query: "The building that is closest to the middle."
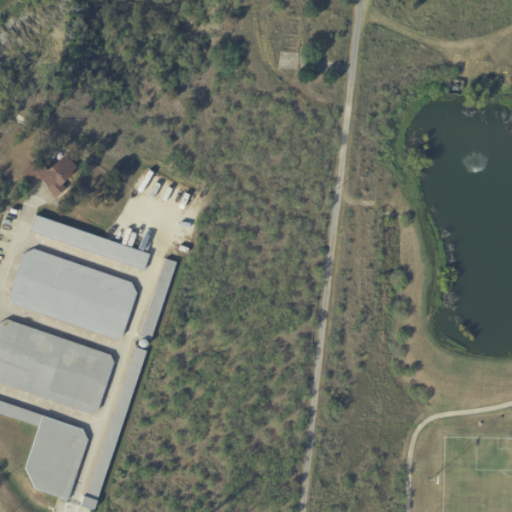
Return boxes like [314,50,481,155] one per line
[140,258,176,337]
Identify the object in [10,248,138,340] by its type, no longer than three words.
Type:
building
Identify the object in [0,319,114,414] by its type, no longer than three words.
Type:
building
